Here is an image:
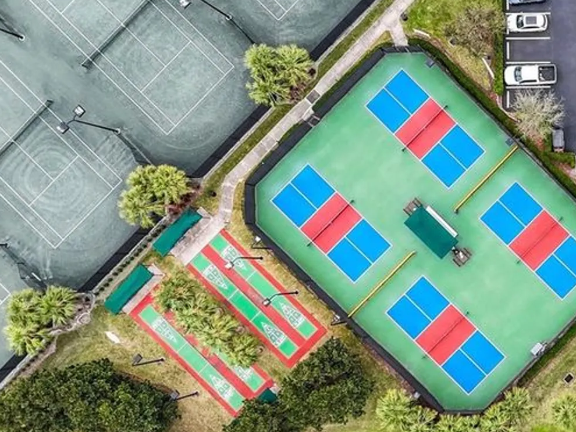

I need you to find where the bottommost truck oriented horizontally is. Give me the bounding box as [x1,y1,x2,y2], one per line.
[504,63,557,86]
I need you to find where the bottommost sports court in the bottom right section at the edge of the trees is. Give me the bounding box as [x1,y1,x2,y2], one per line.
[386,276,507,395]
